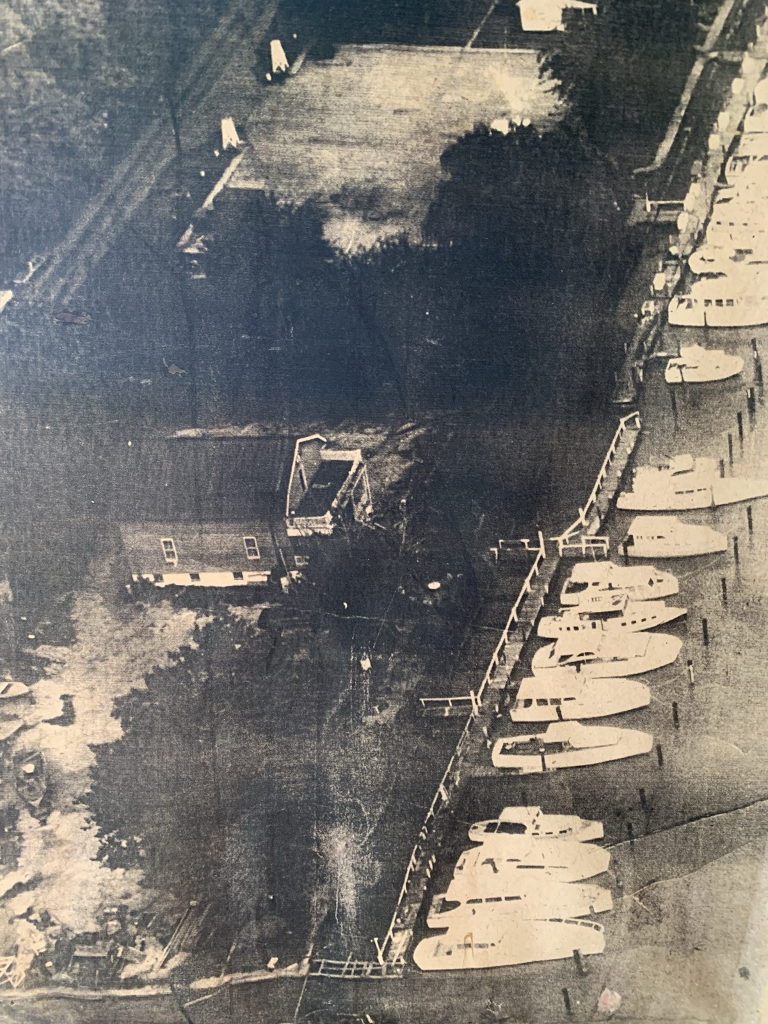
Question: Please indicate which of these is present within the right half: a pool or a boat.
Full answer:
Looking within the right half, you will find a boat.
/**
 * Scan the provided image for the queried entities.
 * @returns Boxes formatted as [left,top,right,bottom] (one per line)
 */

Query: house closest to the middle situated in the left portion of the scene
[112,432,382,583]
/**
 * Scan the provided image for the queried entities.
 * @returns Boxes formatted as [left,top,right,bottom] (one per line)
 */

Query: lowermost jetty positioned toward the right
[384,556,564,977]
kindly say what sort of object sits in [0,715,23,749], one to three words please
boat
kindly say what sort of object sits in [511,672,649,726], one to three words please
boat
